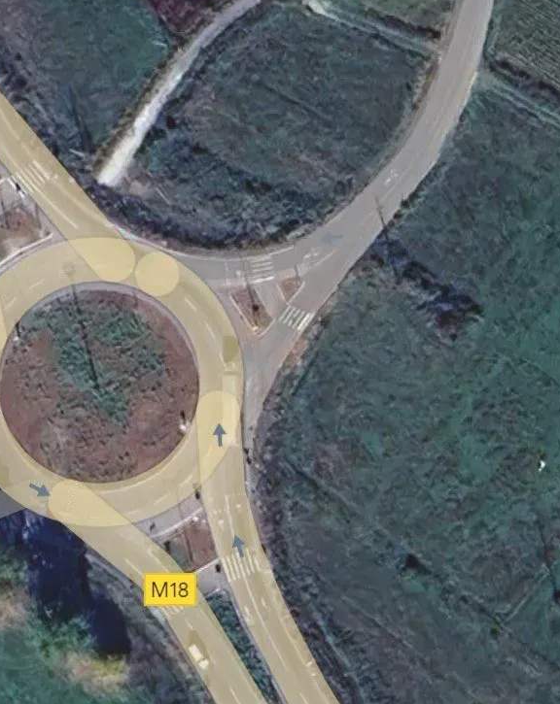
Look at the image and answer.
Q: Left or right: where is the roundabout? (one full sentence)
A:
The roundabout is on the left side of the image.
